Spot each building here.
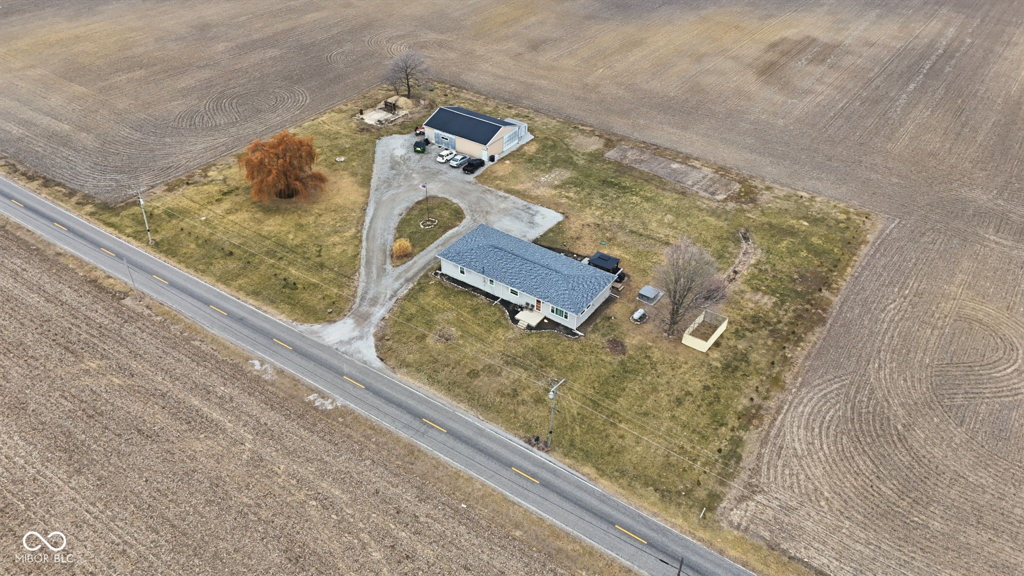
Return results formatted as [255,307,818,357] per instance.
[636,286,663,306]
[436,224,622,334]
[423,106,520,161]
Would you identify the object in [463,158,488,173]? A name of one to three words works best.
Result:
vehicle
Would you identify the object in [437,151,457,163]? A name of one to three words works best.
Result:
vehicle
